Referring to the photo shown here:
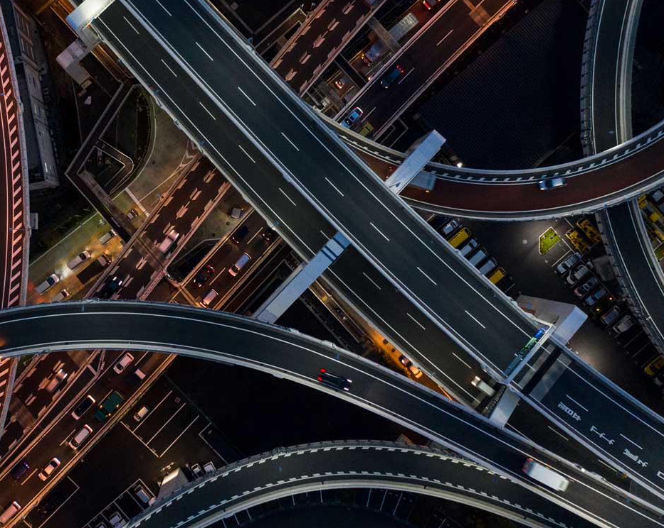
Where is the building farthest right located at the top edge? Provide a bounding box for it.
[408,0,589,168]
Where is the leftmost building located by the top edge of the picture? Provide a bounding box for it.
[0,0,56,191]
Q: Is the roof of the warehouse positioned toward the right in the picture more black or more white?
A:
black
